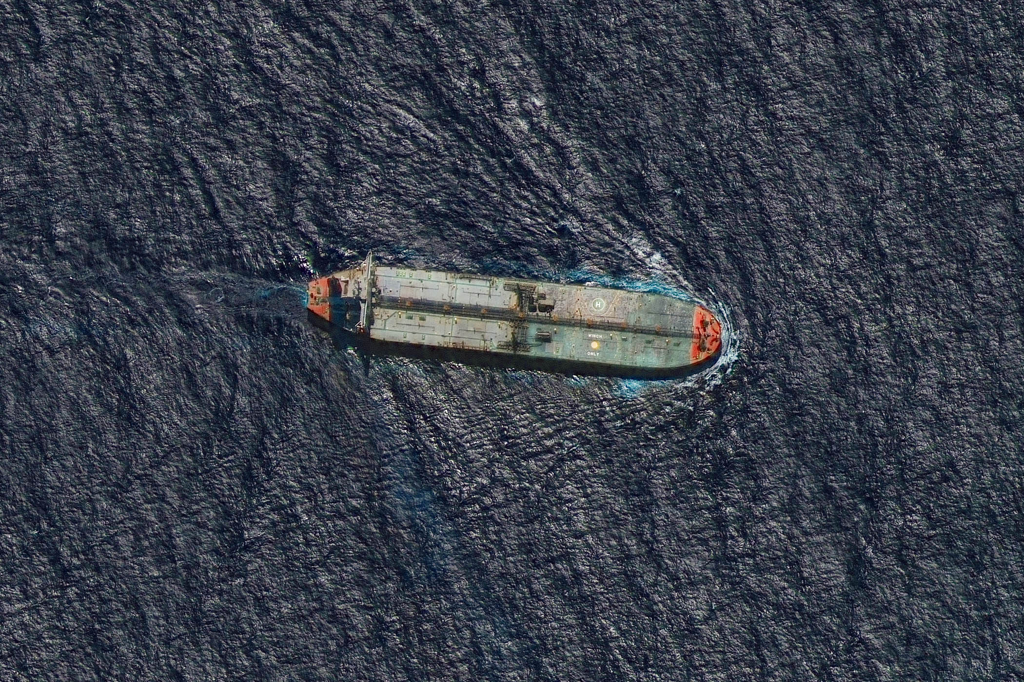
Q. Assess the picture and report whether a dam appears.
No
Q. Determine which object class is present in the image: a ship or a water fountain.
ship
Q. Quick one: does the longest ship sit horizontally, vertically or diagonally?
horizontally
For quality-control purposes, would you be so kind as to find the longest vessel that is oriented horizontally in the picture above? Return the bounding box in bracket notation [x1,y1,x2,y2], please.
[307,252,722,374]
